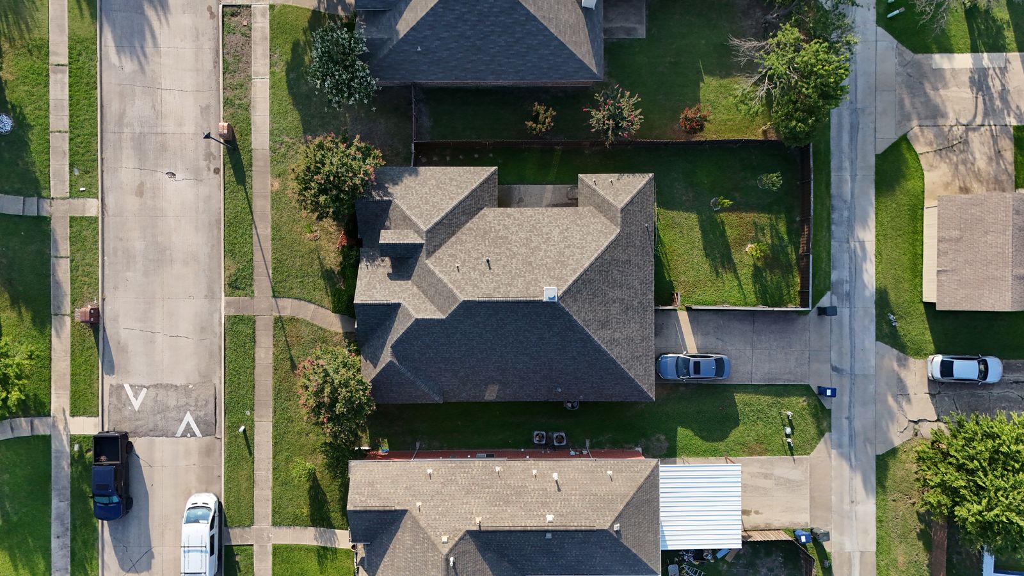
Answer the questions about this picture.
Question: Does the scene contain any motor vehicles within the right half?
Yes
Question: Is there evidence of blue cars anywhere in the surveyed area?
Yes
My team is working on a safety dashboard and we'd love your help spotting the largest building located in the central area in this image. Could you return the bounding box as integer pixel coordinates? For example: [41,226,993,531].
[355,166,656,404]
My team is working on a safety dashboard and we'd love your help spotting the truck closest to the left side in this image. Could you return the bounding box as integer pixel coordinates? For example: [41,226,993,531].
[90,428,133,520]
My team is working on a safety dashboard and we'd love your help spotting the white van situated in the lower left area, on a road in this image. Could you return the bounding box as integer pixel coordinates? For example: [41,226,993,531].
[181,489,222,576]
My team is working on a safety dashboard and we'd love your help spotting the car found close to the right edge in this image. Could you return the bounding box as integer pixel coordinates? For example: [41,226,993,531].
[927,352,1004,386]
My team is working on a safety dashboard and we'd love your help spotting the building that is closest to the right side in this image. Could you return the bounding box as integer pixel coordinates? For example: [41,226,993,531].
[922,191,1024,311]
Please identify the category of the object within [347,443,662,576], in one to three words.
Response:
house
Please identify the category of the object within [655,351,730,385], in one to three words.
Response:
car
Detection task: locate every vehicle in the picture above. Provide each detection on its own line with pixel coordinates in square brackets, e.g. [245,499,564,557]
[181,489,222,576]
[655,351,730,385]
[927,352,1004,386]
[90,428,133,520]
